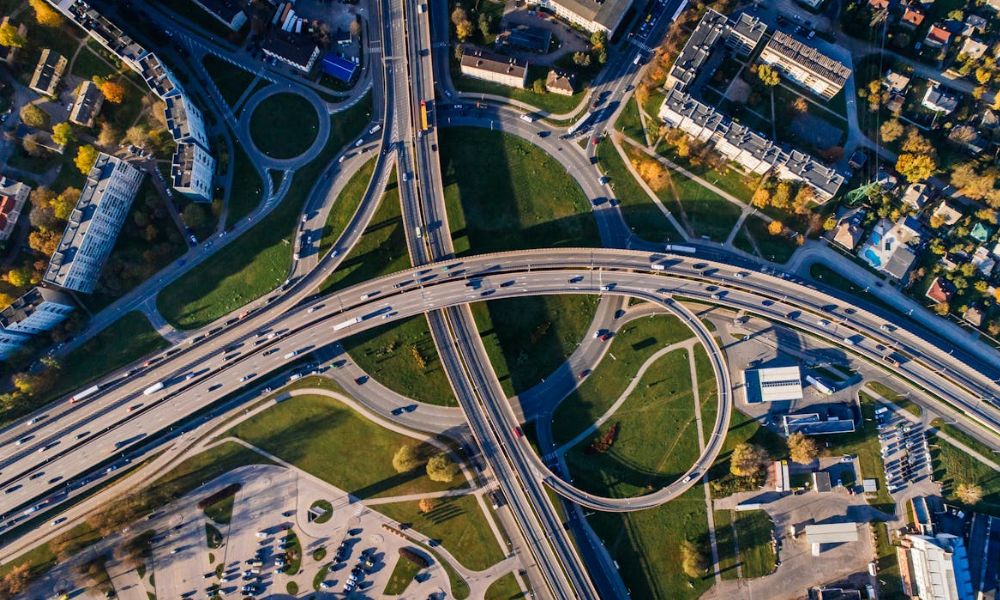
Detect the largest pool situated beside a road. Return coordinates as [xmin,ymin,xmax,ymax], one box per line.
[866,246,881,266]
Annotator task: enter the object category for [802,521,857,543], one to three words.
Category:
shed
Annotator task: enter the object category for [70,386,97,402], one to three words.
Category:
vehicle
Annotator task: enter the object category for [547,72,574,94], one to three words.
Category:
house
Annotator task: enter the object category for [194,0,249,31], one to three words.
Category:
building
